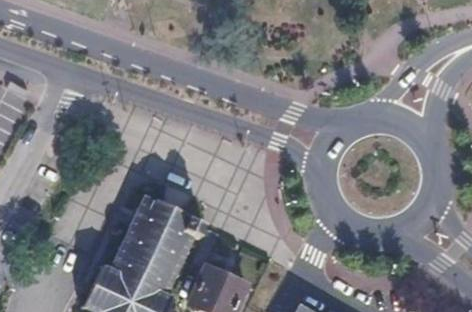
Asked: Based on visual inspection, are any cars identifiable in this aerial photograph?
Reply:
Yes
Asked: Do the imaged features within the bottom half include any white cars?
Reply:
Yes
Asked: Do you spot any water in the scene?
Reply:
No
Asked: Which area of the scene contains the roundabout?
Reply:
right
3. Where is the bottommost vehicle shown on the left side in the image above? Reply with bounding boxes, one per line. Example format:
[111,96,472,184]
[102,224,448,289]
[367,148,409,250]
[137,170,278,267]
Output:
[178,276,192,297]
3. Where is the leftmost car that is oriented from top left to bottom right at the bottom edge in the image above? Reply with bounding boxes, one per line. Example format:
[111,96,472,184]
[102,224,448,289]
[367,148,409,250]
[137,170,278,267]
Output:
[304,294,324,311]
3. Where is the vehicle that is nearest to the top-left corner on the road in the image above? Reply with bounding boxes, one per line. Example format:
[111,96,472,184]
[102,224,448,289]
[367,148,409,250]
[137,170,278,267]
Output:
[22,122,36,144]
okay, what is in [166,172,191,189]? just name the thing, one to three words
vehicle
